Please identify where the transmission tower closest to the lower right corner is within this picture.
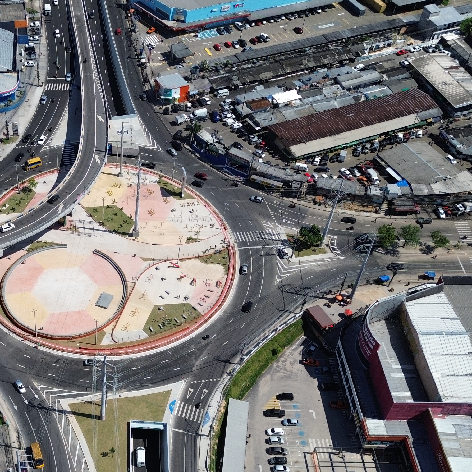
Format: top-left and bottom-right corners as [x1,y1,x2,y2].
[347,230,387,302]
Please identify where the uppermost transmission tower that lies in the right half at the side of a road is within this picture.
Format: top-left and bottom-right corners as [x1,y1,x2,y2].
[318,176,353,249]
